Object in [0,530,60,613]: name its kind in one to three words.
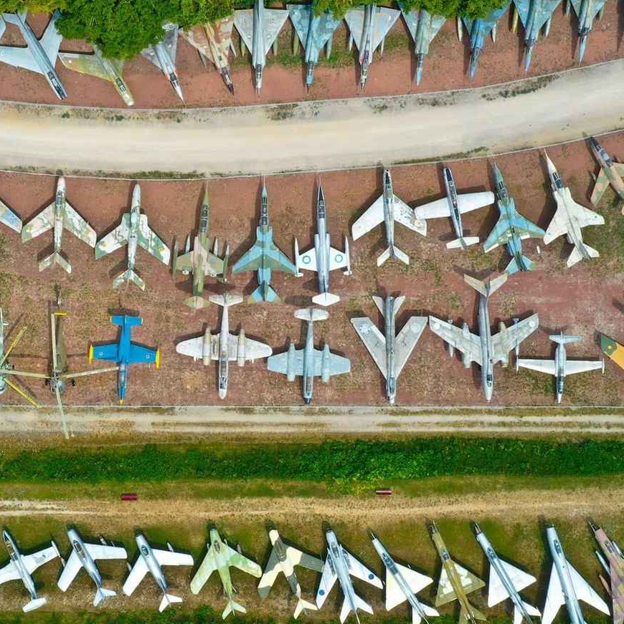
airplane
